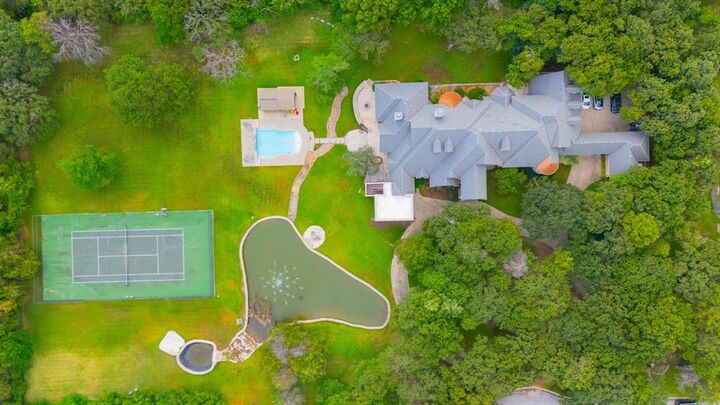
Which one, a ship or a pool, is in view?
pool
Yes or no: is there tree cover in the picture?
Yes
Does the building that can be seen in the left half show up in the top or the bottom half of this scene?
top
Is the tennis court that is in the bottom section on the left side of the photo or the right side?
left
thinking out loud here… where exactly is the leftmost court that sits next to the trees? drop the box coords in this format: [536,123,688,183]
[42,210,210,301]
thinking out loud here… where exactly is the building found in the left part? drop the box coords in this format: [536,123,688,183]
[259,89,295,110]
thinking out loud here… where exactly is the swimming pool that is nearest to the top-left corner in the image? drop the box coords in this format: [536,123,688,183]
[240,85,315,167]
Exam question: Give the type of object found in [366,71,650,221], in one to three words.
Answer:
house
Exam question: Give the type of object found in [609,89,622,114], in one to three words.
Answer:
vehicle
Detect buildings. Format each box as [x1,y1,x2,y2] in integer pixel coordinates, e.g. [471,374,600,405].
[366,71,650,221]
[259,89,295,110]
